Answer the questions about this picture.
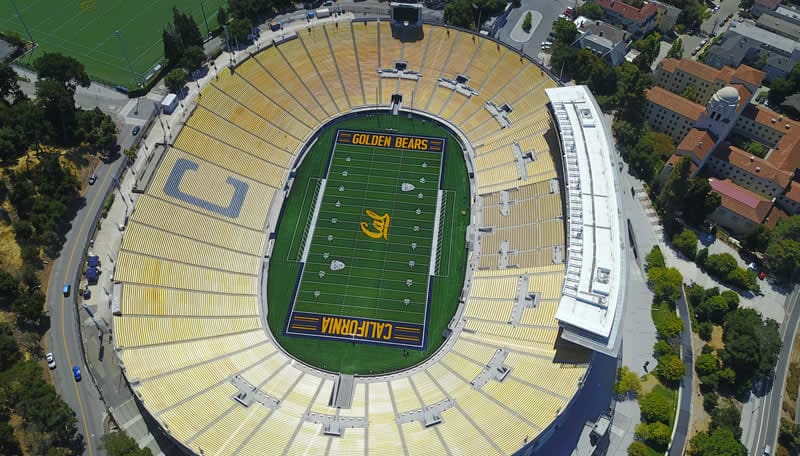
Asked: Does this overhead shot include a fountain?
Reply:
No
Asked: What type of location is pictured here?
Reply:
sports ground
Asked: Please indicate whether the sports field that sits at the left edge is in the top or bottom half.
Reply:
top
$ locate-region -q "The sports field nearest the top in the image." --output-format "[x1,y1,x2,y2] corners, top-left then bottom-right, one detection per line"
[0,0,233,98]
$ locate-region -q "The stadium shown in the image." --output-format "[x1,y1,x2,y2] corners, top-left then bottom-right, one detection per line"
[112,16,596,456]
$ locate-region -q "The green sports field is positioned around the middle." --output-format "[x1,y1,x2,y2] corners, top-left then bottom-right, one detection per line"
[265,112,473,376]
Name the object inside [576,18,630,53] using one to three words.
house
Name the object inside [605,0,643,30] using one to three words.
house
